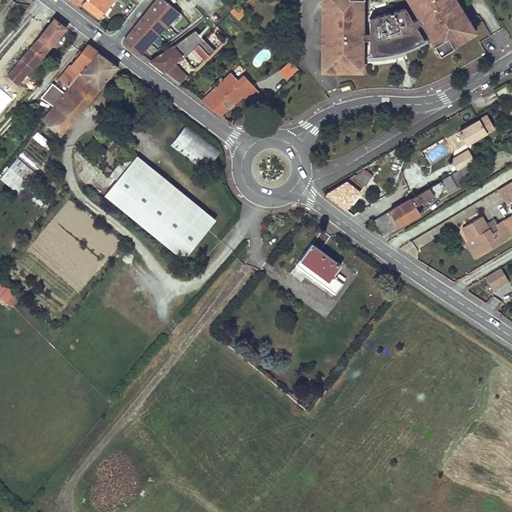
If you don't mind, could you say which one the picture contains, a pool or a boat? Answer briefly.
pool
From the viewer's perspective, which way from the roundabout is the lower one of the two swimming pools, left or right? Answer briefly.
to the right of it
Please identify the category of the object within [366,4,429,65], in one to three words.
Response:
building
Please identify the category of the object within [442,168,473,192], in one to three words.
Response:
shed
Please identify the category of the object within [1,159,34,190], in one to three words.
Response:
barn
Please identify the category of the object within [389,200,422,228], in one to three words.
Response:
house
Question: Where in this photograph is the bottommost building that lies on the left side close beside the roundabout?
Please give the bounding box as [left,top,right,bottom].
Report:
[105,157,216,260]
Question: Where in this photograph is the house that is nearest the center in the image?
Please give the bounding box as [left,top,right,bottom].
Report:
[291,246,346,293]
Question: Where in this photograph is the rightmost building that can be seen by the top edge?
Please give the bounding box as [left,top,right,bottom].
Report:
[404,0,479,62]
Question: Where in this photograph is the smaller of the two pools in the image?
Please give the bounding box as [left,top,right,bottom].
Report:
[254,50,270,67]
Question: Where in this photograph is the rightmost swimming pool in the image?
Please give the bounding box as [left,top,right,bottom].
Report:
[424,141,450,166]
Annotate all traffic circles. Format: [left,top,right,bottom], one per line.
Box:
[232,130,311,207]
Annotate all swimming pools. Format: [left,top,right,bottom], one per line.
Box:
[424,141,450,166]
[254,50,270,67]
